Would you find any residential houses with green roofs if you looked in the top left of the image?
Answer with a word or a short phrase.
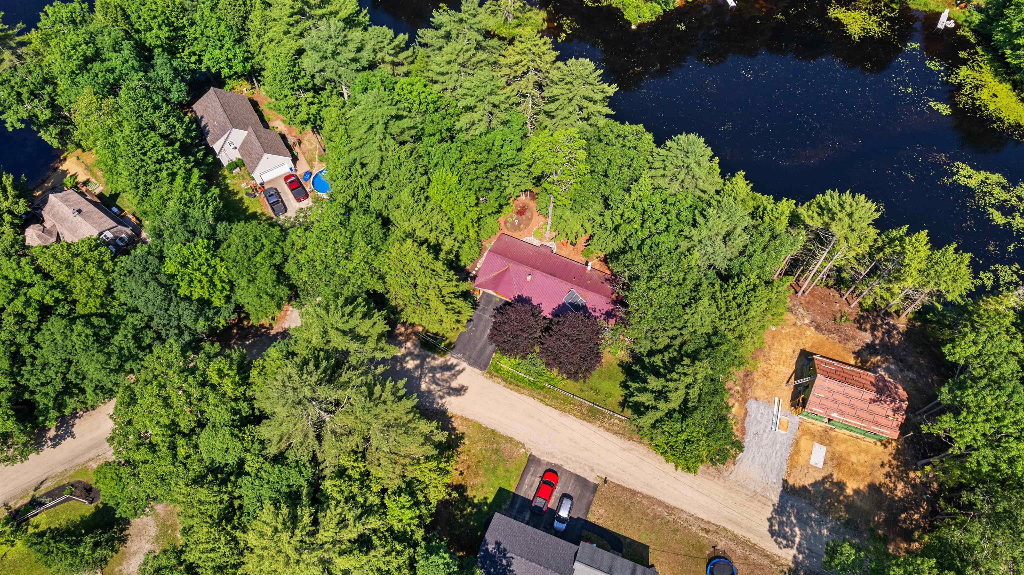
No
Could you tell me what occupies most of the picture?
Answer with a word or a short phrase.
trees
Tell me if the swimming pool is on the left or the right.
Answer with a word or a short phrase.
left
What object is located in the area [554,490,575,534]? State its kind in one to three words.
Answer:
car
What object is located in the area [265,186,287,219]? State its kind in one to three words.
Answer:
truck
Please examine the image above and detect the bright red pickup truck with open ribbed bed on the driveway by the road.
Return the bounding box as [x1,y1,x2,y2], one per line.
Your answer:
[532,466,556,516]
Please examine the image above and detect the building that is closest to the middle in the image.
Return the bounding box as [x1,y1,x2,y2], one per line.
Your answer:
[471,234,623,340]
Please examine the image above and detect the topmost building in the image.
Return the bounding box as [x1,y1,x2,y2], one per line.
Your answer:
[195,87,295,184]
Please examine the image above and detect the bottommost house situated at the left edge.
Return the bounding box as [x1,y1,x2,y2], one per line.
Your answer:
[22,189,144,272]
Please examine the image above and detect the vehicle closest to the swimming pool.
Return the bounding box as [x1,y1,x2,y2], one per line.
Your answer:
[286,173,308,205]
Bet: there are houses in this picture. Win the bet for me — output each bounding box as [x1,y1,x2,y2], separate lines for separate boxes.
[471,234,623,340]
[22,189,144,272]
[472,512,661,575]
[794,356,911,443]
[195,87,295,184]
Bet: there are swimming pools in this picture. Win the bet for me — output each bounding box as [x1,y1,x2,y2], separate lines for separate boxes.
[309,167,337,188]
